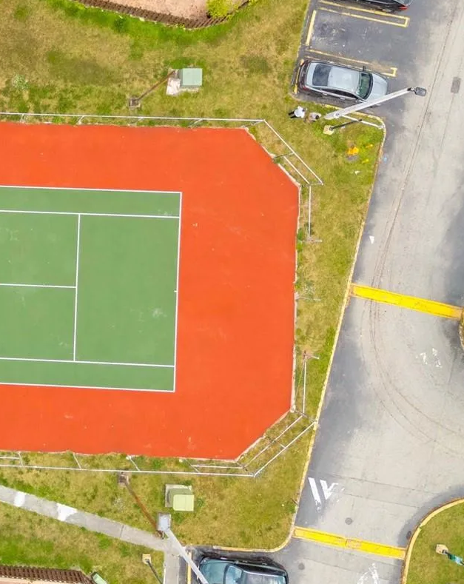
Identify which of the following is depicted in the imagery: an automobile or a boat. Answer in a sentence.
I can see an automobile in this picture.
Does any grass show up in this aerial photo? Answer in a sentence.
Yes, some grass is visible.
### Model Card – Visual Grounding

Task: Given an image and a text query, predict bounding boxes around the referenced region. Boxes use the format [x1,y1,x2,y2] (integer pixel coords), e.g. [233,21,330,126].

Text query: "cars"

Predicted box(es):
[327,0,413,13]
[294,58,386,103]
[194,555,287,584]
